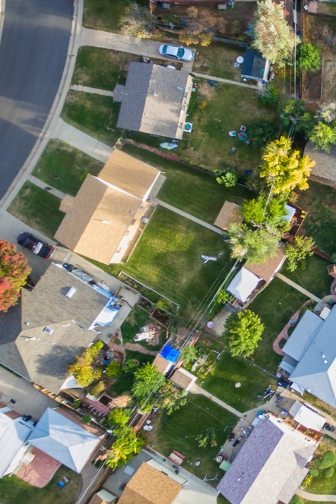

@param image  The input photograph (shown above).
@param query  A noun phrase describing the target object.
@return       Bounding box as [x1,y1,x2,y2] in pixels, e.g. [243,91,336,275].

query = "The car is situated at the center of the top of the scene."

[158,45,196,62]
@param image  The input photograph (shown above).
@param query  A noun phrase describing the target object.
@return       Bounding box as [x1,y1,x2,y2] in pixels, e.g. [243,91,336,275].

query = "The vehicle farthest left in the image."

[18,232,57,261]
